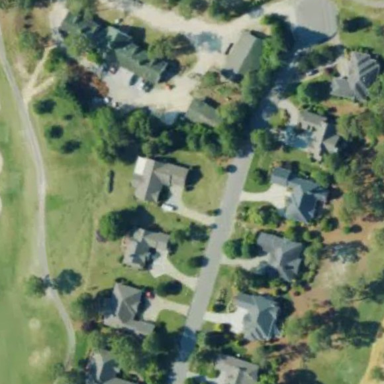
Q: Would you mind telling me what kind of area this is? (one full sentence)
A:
What you see here is a residential area.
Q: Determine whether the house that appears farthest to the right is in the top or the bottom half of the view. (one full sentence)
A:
The house that appears farthest to the right is in the top half of the image.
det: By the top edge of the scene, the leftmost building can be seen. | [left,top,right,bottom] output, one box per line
[86,18,176,84]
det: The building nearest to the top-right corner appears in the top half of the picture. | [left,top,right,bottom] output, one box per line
[329,49,384,106]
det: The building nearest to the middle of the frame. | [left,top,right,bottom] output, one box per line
[132,153,191,204]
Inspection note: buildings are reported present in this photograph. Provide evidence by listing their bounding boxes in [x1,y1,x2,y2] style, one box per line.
[256,228,305,282]
[329,49,384,106]
[298,108,344,159]
[124,228,175,272]
[89,348,130,384]
[234,290,283,343]
[132,153,191,204]
[214,355,262,384]
[101,278,158,336]
[225,30,267,78]
[267,164,329,224]
[86,18,176,84]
